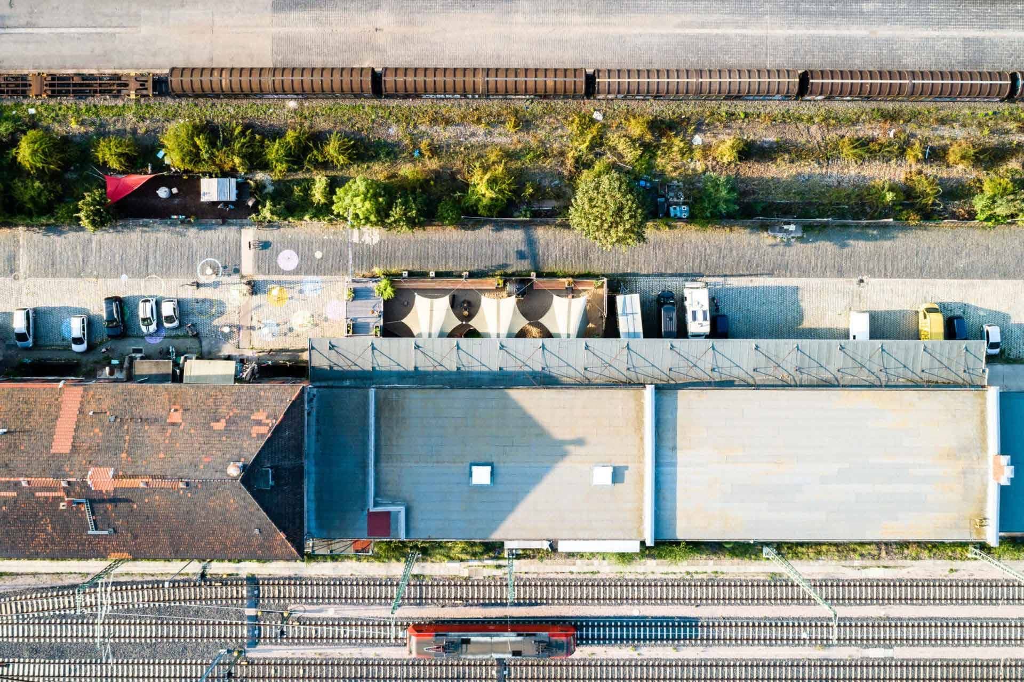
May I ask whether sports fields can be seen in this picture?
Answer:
No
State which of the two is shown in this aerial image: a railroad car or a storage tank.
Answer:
railroad car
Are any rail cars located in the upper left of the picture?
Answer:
Yes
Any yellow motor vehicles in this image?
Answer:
Yes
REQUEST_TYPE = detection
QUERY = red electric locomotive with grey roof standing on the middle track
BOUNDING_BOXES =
[406,623,580,660]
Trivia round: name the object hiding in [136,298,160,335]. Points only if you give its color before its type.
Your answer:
white car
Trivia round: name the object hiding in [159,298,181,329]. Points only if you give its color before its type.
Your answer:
white car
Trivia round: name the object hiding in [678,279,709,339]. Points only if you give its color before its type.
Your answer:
white camper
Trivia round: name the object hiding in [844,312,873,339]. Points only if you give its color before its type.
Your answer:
white vehicle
